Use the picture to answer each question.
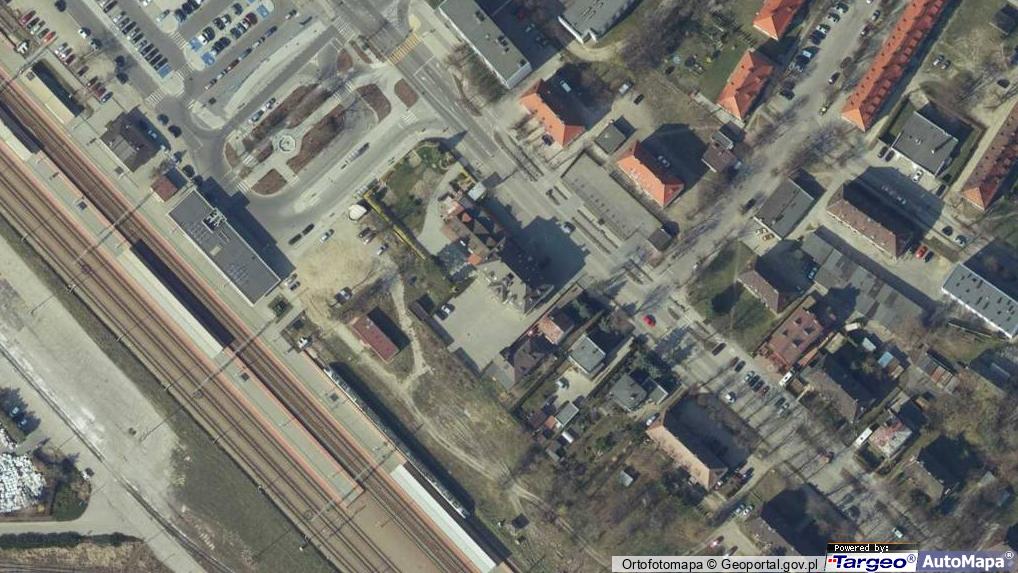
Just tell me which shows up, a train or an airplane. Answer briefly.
train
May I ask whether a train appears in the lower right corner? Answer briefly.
No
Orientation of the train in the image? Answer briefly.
diagonally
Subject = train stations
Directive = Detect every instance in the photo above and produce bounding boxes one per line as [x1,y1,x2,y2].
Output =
[169,191,280,304]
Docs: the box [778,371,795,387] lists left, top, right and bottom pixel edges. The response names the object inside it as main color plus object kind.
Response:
white vehicle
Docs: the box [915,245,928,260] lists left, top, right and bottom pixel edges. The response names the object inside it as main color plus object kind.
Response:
red vehicle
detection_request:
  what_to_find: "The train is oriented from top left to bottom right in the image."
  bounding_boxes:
[326,366,467,515]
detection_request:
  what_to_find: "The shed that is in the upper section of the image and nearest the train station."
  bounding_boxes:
[152,174,179,203]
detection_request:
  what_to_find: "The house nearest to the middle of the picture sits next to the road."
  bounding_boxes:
[477,254,553,316]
